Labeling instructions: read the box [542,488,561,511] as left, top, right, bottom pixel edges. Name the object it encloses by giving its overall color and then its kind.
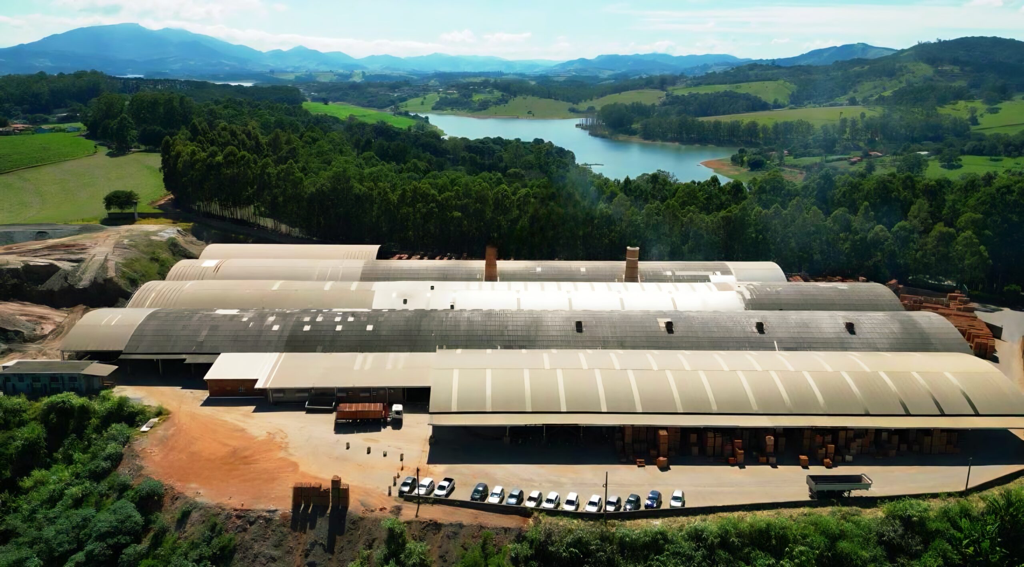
white car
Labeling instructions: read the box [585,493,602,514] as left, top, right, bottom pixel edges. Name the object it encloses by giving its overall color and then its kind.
white car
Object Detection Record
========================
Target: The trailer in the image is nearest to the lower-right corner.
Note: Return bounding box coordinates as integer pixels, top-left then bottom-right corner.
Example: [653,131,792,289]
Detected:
[808,475,874,502]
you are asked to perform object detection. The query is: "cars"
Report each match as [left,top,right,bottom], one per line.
[468,480,490,503]
[645,487,662,512]
[542,488,561,511]
[415,475,437,499]
[525,489,543,510]
[562,493,580,513]
[624,490,641,514]
[506,487,524,507]
[585,493,602,514]
[606,493,622,514]
[397,475,419,497]
[669,489,685,510]
[486,482,507,506]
